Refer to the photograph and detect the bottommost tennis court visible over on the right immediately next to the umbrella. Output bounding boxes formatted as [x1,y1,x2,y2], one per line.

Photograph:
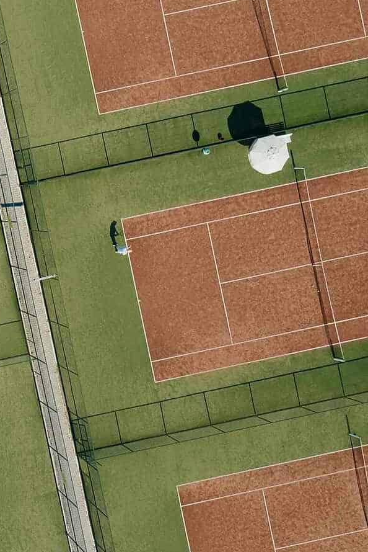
[122,169,368,383]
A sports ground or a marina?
sports ground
